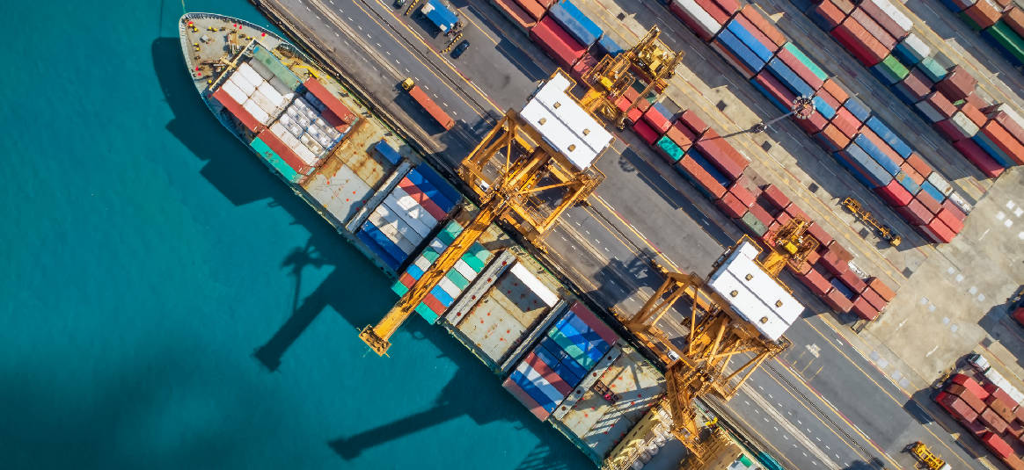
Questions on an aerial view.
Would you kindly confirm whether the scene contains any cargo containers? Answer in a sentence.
Yes, there is a cargo container in the image.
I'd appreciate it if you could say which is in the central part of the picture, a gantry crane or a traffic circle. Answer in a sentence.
The feature located in the central part of the picture is a gantry crane.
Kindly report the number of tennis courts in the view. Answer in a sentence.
There are no tennis courts in the image.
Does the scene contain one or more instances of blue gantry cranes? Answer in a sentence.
No, the frame has no blue gantry crane in it.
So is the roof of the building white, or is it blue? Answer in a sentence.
The color of the roof of the building is blue.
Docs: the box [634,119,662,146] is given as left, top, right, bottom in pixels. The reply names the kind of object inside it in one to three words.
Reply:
shipping container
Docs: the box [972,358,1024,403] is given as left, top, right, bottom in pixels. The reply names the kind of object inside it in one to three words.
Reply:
shipping container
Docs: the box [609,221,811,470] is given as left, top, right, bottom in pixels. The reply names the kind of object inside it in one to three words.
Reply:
container crane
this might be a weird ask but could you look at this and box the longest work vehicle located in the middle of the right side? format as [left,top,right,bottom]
[842,195,902,247]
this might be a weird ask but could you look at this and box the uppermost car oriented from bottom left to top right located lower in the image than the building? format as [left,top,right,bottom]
[451,41,468,59]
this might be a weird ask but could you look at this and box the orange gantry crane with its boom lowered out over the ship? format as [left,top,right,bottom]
[365,58,629,353]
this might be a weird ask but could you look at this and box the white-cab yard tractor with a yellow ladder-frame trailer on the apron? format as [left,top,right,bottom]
[906,435,955,470]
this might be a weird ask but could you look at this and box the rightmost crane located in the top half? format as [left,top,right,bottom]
[614,18,683,129]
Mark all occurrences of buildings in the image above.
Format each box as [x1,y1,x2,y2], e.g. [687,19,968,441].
[419,0,459,35]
